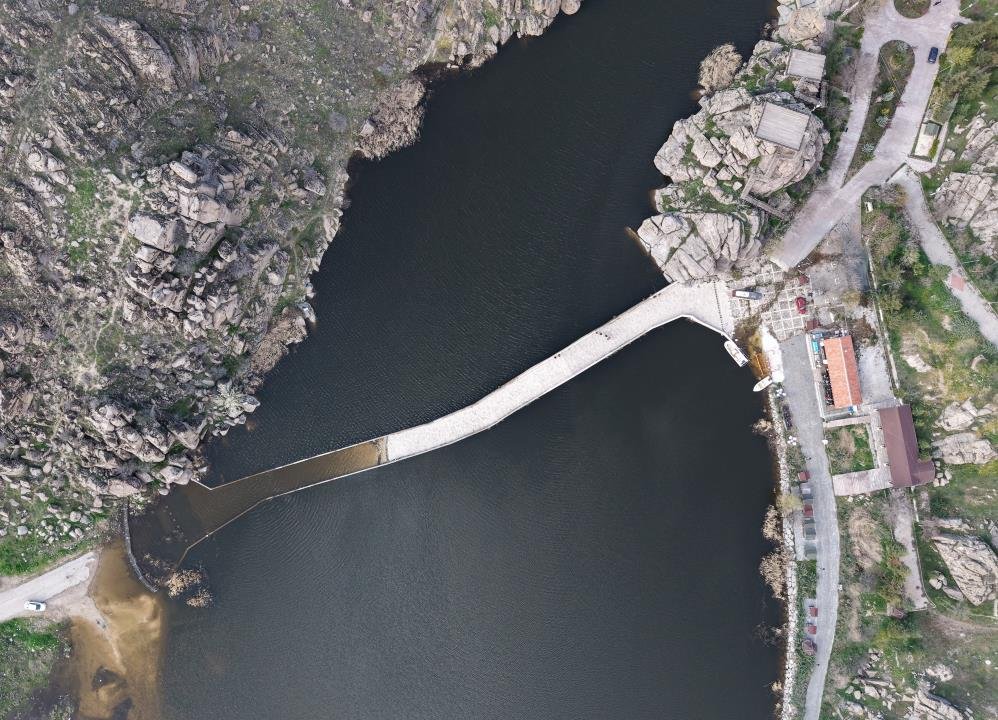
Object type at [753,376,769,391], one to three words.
boat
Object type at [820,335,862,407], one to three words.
house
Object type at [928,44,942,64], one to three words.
car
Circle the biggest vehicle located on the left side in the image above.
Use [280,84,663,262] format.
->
[21,601,45,614]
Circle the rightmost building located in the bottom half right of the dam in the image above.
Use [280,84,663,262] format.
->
[868,405,939,486]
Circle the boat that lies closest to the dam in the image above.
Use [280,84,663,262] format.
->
[726,343,748,366]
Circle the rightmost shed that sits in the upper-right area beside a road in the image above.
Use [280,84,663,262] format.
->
[917,122,940,139]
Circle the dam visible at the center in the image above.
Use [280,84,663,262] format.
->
[146,277,733,569]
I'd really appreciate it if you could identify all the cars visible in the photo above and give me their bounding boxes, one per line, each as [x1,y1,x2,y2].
[950,17,971,32]
[21,601,45,614]
[796,295,809,315]
[928,44,942,64]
